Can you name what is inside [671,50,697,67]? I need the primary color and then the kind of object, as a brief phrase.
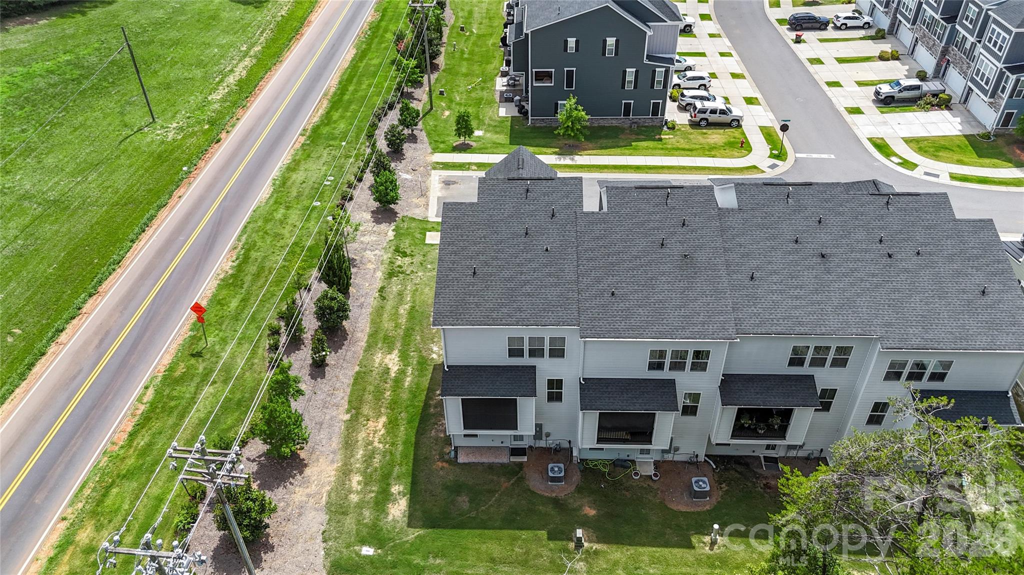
white car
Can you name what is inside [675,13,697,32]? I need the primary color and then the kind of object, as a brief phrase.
white vehicle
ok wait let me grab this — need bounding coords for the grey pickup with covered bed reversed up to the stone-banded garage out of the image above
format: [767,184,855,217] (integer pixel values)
[872,72,942,99]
